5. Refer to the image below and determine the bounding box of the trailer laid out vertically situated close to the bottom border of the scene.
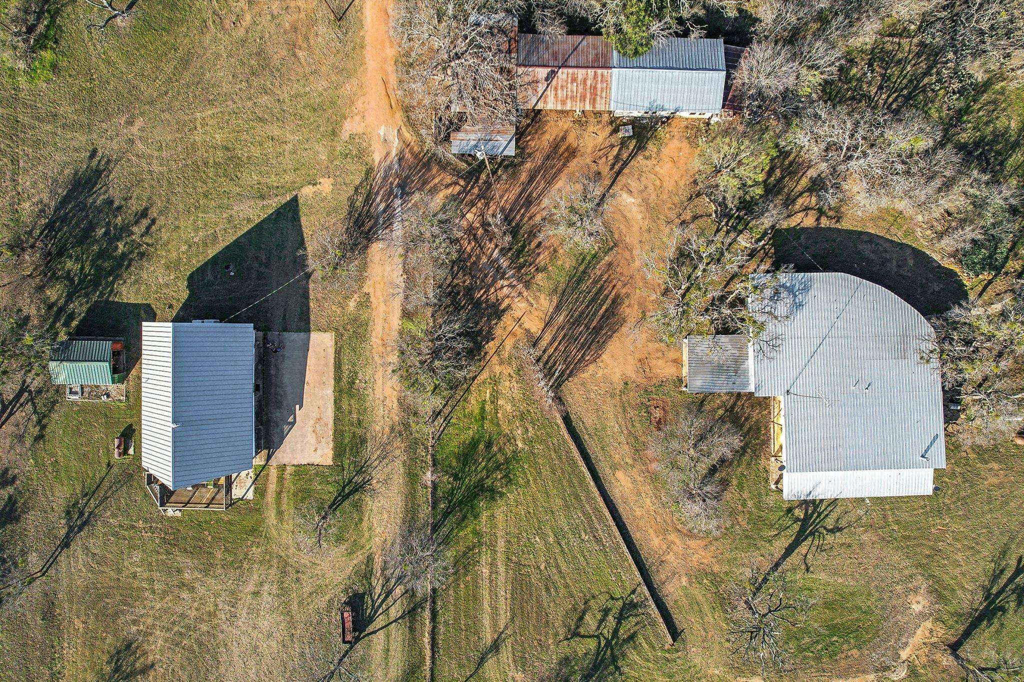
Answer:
[338,602,356,652]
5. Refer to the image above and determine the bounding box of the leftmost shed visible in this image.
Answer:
[49,337,135,385]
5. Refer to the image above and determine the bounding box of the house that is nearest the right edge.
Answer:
[745,272,942,500]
